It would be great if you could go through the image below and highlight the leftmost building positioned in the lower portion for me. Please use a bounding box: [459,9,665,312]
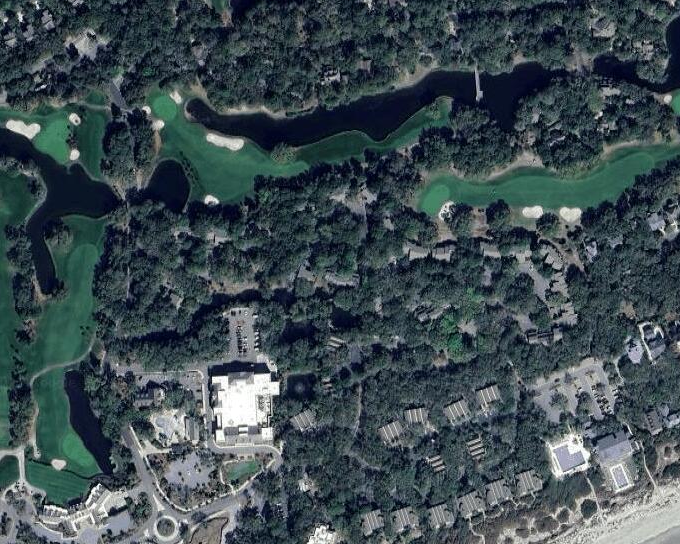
[39,483,114,534]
